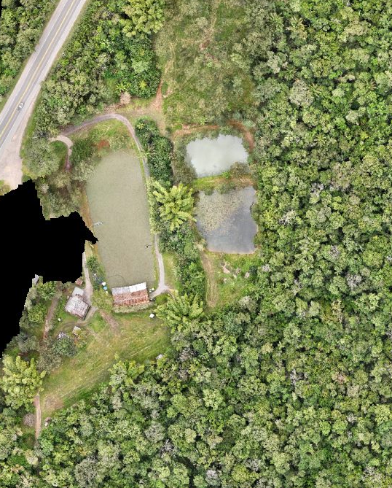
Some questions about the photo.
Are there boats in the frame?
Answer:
No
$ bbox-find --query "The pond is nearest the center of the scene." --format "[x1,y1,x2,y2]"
[196,187,256,252]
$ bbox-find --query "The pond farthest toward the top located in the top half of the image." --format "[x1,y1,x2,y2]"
[186,133,248,176]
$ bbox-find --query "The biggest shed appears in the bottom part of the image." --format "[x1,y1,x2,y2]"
[113,283,149,307]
